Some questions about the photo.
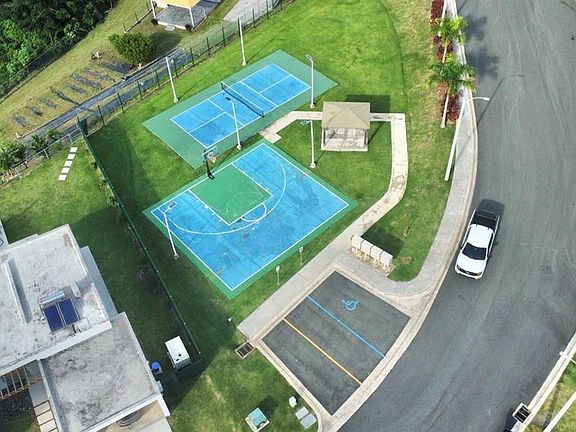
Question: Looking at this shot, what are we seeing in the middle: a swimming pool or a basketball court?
basketball court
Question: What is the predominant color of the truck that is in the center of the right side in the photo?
white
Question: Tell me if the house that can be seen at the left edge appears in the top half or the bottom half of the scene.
bottom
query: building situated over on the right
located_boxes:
[321,102,371,151]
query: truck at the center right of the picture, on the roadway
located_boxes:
[457,208,501,276]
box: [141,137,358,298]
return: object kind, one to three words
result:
basketball court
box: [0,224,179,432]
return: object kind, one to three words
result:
house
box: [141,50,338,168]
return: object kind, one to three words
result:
sports court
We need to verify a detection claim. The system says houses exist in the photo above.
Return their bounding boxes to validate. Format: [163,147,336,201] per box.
[133,0,224,32]
[0,224,179,432]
